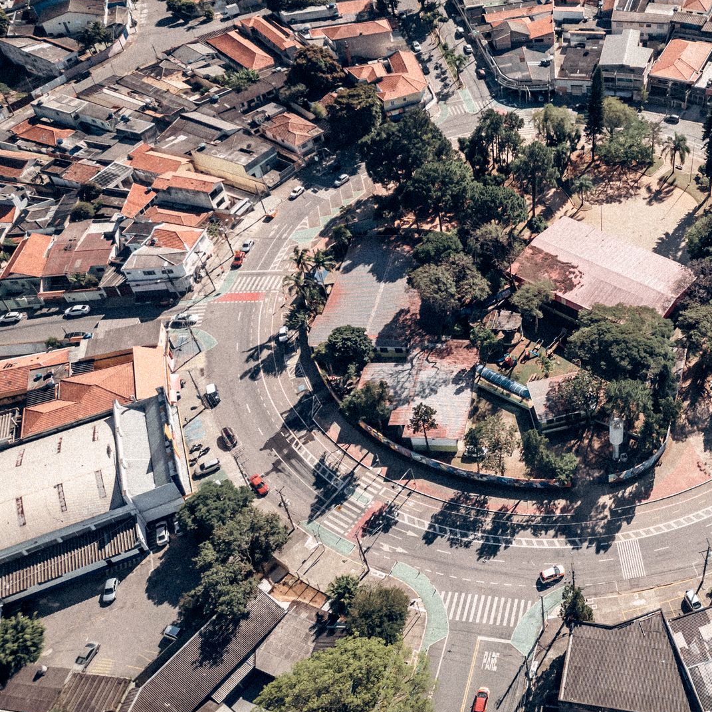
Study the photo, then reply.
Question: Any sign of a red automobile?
Yes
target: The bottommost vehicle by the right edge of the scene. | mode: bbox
[681,579,706,614]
